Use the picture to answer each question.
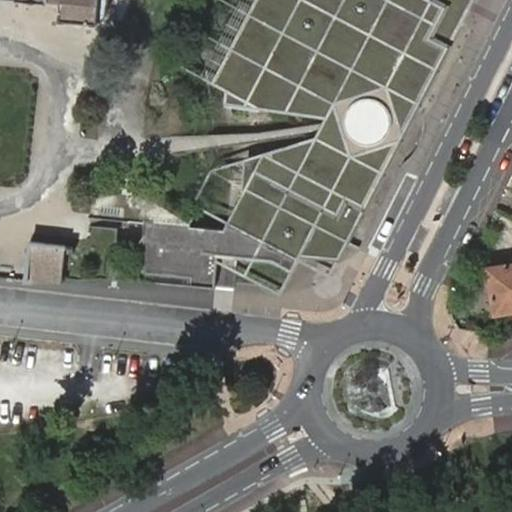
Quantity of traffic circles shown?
one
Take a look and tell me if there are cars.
Yes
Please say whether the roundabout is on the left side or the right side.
right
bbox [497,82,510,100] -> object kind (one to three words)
vehicle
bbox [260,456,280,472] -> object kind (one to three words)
car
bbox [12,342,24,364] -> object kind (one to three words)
vehicle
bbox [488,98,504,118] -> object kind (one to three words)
car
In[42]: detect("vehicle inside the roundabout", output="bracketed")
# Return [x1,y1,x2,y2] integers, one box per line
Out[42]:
[298,375,316,398]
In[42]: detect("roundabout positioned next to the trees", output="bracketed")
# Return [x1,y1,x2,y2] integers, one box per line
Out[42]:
[286,302,462,475]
